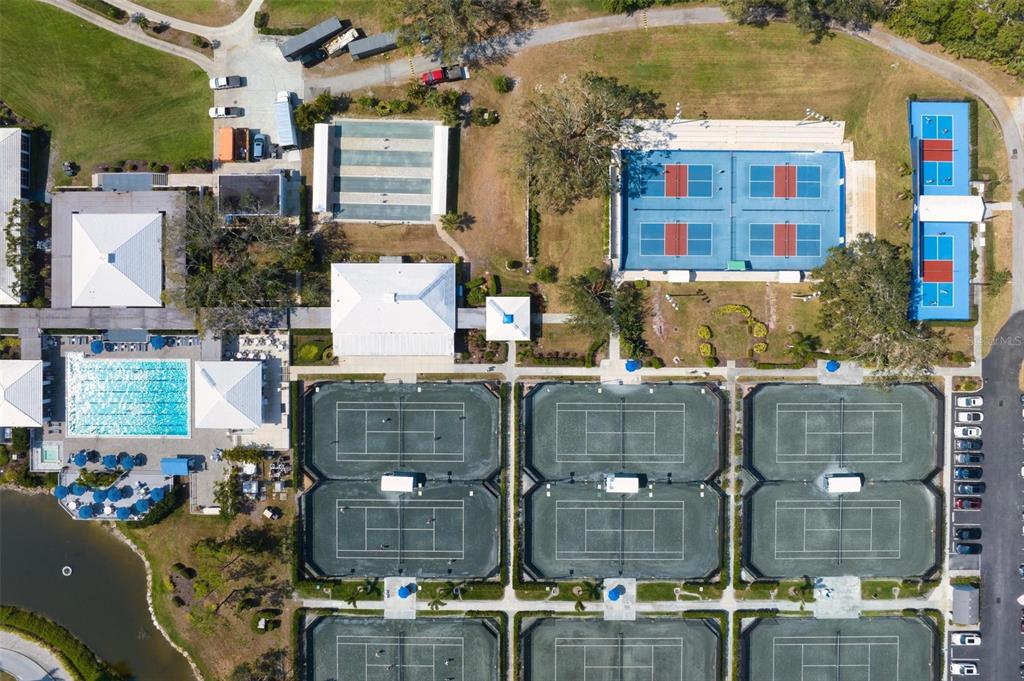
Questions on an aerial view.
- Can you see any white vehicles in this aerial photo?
Yes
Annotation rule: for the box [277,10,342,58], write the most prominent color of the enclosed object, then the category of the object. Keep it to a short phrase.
gray trailer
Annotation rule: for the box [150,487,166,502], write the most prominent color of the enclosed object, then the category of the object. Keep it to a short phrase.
blue umbrella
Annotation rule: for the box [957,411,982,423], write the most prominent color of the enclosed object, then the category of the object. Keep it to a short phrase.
white vehicle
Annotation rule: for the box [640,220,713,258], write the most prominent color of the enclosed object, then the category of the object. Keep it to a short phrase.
blue sports court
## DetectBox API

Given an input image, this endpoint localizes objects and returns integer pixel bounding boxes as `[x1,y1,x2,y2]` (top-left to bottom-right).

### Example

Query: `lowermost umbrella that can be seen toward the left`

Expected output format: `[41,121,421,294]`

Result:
[398,585,411,598]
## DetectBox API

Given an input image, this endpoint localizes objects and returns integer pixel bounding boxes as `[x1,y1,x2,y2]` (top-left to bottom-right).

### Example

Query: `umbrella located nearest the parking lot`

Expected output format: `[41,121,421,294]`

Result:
[825,360,838,373]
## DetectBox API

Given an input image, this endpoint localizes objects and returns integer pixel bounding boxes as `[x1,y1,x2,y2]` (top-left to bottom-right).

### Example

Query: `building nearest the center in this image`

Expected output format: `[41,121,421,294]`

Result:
[486,296,531,342]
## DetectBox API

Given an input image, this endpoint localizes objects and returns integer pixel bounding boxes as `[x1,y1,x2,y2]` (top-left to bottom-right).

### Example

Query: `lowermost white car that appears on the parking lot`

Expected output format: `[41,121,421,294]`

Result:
[949,662,978,677]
